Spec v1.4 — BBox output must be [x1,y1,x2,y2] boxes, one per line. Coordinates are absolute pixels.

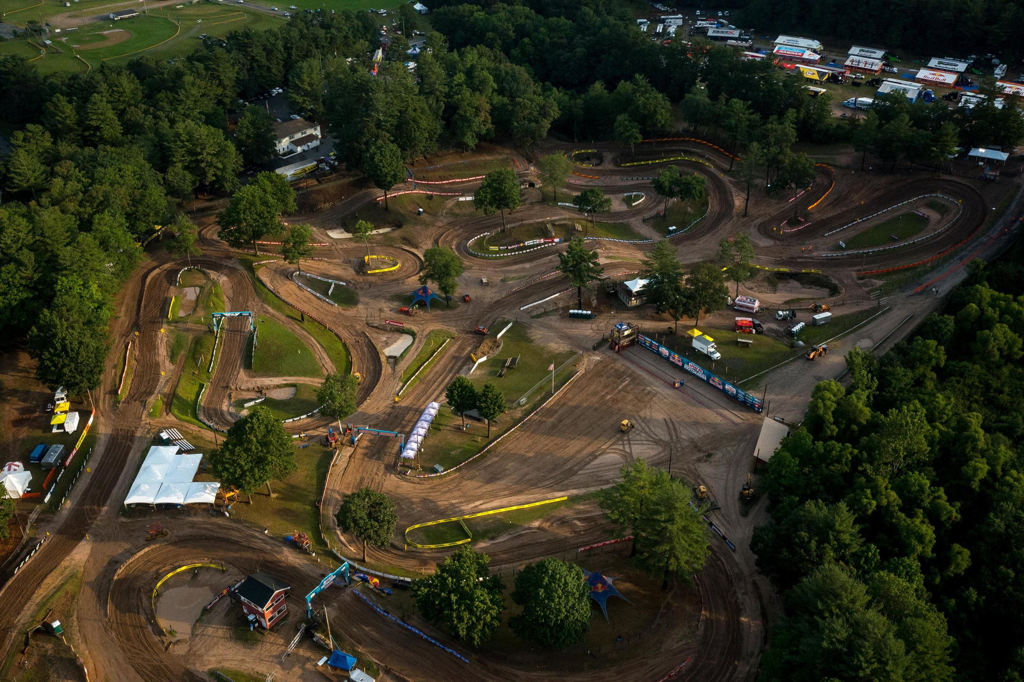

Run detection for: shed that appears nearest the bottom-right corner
[753,417,791,474]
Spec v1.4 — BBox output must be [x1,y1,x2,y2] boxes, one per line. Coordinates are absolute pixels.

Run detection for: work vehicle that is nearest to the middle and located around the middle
[469,323,492,336]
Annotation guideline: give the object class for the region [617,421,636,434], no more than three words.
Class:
vehicle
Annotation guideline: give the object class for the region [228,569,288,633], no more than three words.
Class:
house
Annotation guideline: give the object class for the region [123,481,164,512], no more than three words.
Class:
tent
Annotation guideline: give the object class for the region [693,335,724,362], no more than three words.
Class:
truck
